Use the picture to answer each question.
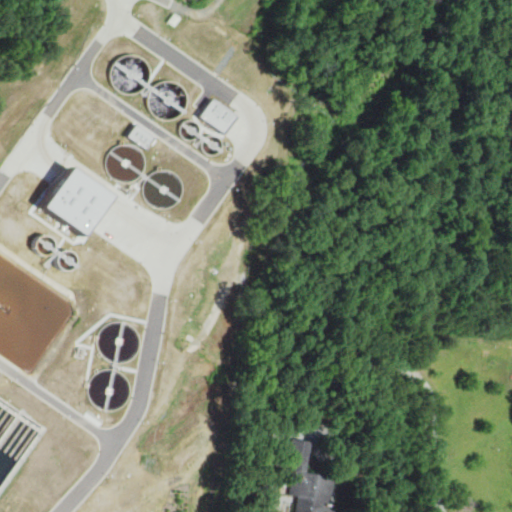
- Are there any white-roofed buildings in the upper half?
Yes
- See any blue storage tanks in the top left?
No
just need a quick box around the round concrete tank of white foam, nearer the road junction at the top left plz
[110,54,152,96]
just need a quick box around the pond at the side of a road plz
[0,242,80,378]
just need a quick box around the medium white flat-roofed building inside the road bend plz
[200,99,238,134]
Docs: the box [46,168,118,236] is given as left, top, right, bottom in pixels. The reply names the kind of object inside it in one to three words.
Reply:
building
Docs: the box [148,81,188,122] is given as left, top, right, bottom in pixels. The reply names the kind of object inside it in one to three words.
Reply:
storage tank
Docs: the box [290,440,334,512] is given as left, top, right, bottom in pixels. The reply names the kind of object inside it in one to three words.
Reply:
house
